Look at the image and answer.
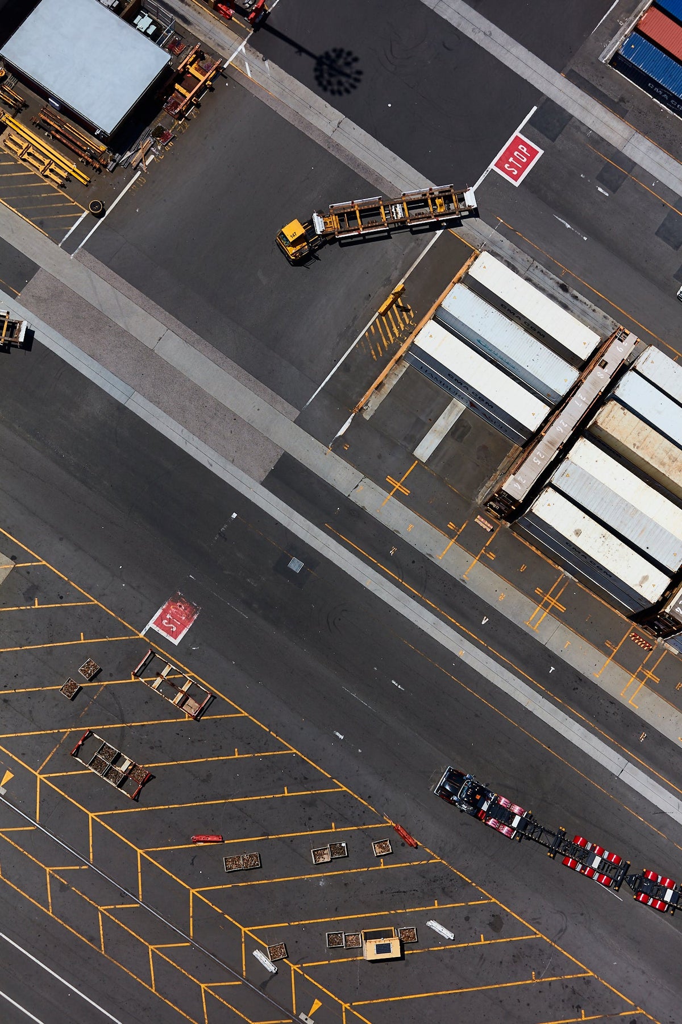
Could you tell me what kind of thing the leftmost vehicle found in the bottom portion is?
truck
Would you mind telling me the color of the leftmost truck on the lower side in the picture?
black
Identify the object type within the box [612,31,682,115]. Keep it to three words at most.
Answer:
shipping container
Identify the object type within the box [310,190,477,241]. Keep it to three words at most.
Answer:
trailer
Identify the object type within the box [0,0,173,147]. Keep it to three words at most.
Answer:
shed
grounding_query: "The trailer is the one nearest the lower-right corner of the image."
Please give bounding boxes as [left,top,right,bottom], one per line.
[626,869,682,913]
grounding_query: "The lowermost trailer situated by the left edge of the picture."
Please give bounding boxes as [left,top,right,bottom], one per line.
[0,308,31,347]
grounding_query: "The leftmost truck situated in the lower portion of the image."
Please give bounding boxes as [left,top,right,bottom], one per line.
[434,766,527,840]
